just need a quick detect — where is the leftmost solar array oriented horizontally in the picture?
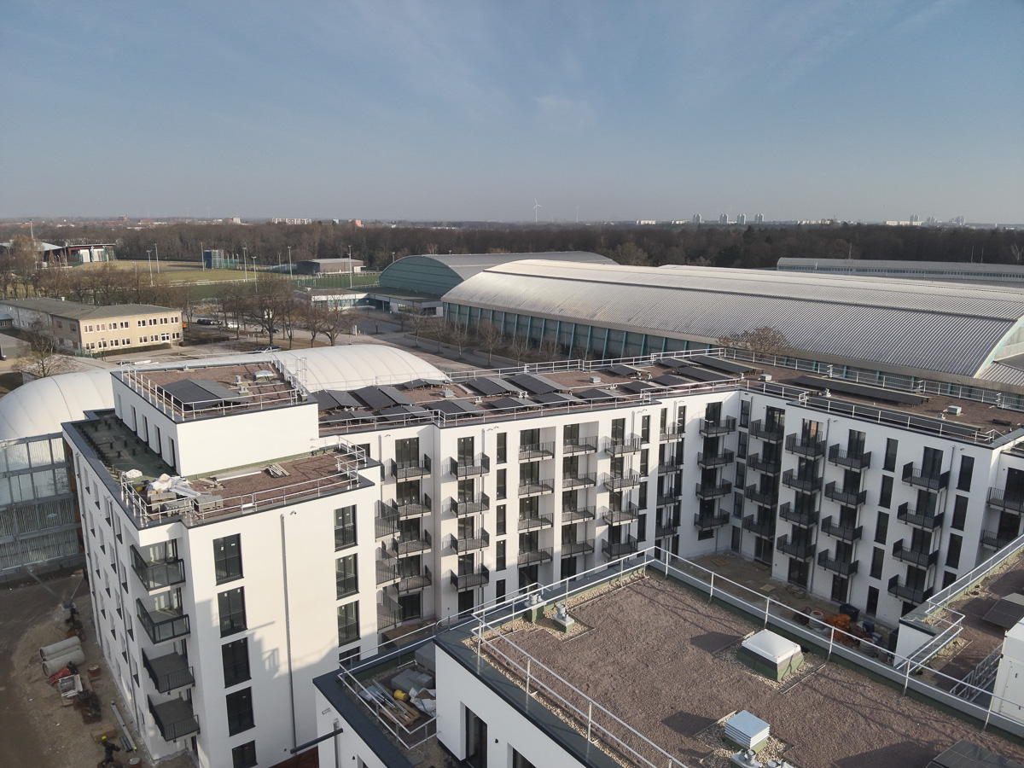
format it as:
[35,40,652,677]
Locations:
[160,379,253,413]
